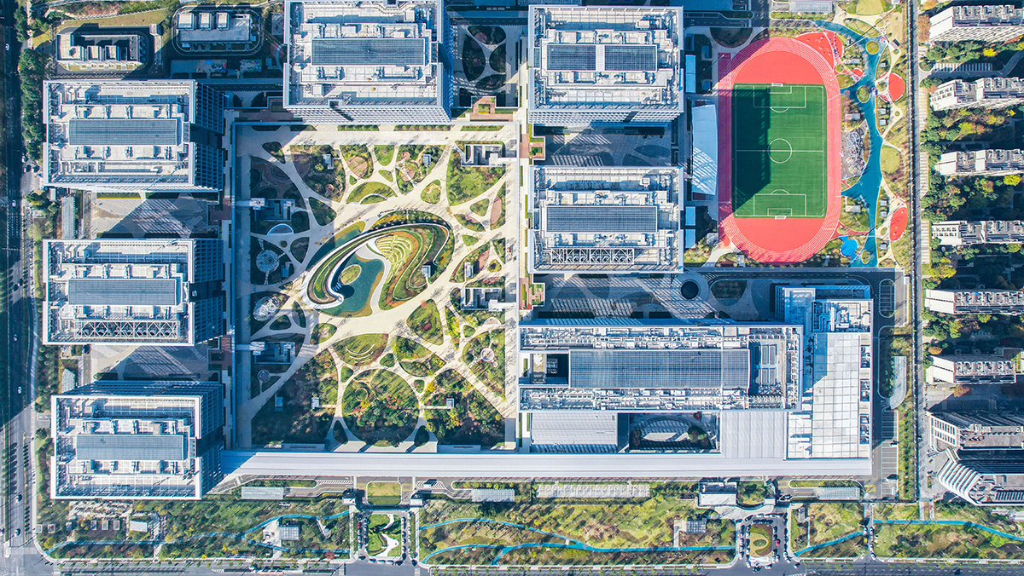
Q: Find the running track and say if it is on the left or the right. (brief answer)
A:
right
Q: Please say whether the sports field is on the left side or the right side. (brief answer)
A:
right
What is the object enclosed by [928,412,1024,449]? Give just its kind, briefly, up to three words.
building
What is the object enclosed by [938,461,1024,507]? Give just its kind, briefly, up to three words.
building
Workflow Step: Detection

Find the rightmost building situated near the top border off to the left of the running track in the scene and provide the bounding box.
[528,5,684,126]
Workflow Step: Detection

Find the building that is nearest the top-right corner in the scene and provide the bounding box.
[927,5,1024,38]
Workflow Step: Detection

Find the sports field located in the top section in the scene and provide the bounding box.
[733,83,827,218]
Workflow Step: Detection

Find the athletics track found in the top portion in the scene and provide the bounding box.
[718,36,841,264]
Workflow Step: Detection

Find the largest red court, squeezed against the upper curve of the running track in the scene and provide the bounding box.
[795,31,833,65]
